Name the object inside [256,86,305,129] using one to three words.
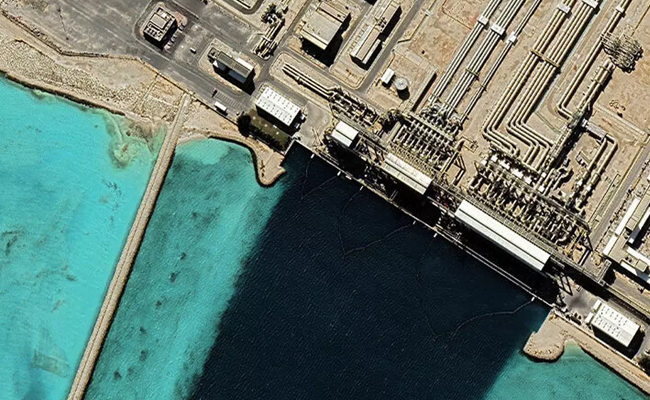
building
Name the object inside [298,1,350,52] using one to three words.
building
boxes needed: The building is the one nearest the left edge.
[143,6,178,43]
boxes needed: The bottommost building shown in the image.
[583,300,640,349]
